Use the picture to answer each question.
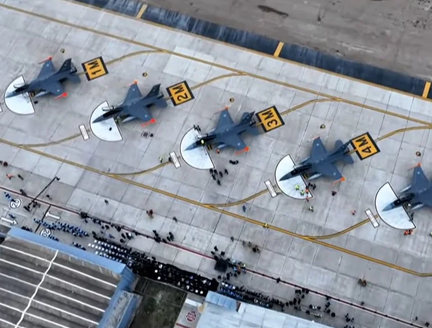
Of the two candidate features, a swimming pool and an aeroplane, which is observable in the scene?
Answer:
aeroplane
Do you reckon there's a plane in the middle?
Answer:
Yes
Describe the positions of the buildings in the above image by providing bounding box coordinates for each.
[195,292,326,328]
[0,227,140,328]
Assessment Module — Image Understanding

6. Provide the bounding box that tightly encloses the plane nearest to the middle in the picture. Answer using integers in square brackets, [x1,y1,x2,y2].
[181,108,260,154]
